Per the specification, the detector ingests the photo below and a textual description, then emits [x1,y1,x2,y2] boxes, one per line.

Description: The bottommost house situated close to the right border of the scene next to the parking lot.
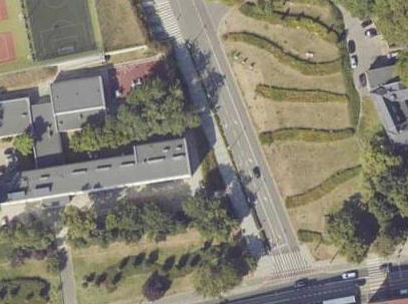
[368,82,408,146]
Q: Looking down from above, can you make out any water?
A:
No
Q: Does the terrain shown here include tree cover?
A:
Yes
